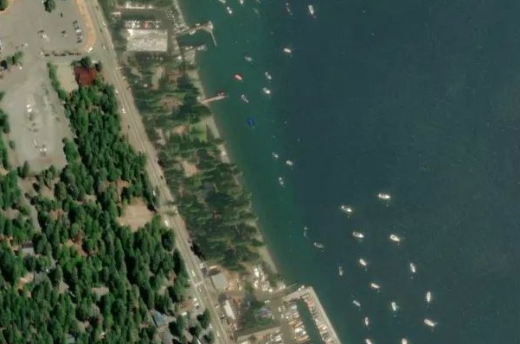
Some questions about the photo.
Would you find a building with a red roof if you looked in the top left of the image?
Yes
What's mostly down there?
water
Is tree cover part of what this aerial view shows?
Yes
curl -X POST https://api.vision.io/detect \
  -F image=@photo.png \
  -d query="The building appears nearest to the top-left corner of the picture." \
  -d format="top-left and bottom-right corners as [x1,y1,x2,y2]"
[75,67,96,87]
